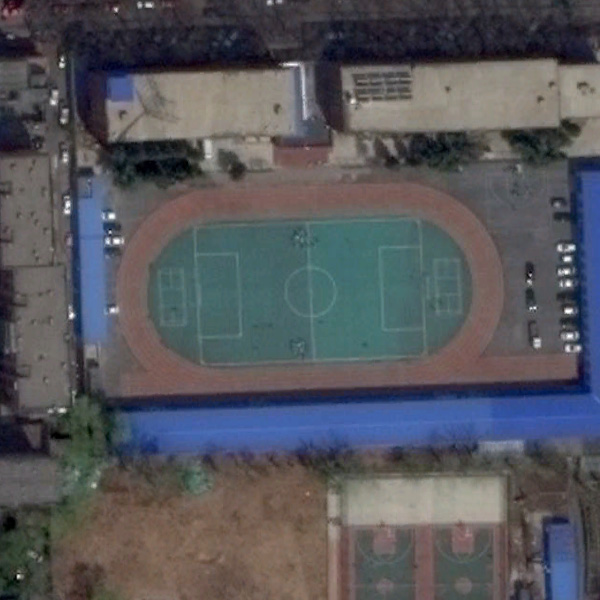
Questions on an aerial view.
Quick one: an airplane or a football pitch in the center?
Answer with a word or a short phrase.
football pitch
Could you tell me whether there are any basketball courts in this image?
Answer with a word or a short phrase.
Yes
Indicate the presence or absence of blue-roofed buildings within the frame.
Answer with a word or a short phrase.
Yes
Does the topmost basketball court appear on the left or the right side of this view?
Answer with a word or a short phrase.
right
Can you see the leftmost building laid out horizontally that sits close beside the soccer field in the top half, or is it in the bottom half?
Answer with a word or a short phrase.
top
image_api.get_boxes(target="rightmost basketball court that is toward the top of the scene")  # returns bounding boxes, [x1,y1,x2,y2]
[485,171,548,275]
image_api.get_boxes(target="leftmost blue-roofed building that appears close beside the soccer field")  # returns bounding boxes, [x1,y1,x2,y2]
[77,173,108,344]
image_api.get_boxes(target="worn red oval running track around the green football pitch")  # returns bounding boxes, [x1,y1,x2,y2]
[117,182,575,412]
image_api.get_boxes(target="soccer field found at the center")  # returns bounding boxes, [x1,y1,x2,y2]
[151,218,469,364]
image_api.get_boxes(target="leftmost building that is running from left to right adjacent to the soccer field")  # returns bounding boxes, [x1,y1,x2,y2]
[101,66,293,141]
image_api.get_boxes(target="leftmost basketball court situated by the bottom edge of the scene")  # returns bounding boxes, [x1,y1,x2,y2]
[357,527,411,600]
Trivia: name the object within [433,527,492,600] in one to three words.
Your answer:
basketball court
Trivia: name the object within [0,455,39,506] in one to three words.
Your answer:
building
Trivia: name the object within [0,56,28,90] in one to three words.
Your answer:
house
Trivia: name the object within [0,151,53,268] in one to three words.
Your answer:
building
